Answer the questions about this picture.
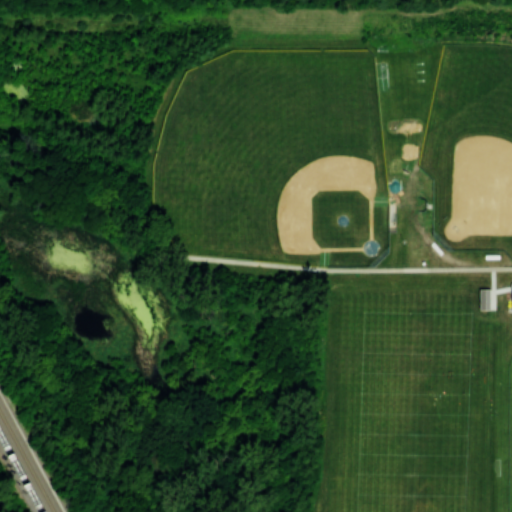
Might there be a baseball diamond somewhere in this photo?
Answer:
Yes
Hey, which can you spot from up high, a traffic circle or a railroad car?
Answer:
railroad car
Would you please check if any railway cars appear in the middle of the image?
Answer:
No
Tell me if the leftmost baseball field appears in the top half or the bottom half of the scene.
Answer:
top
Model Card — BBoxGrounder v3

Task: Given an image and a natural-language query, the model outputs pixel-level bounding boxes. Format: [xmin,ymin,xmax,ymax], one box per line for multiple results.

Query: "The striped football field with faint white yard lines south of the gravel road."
[340,292,484,512]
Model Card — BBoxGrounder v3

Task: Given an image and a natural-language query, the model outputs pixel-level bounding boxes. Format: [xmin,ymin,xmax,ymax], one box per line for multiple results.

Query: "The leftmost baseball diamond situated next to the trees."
[153,51,388,266]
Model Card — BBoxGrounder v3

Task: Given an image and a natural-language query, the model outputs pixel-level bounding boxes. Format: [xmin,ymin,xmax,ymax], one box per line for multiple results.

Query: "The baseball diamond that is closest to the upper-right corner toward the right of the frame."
[421,42,512,250]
